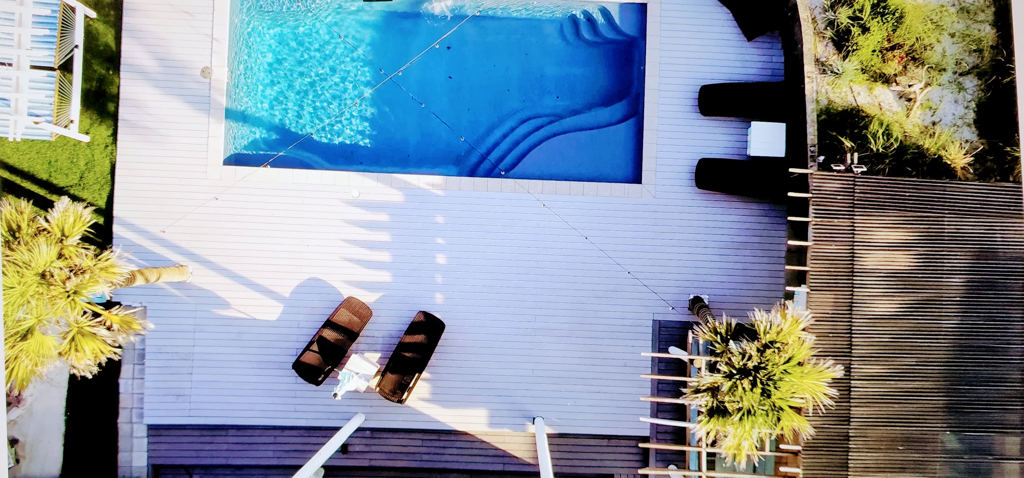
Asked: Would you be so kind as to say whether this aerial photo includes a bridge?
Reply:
No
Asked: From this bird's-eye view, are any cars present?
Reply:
No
